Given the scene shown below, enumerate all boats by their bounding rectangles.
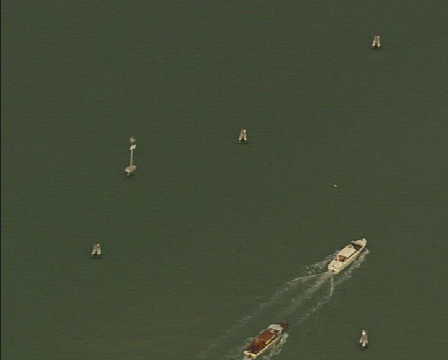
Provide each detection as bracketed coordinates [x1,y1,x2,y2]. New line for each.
[325,237,367,274]
[243,322,286,359]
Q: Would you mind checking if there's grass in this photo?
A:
No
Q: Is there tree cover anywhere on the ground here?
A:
No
